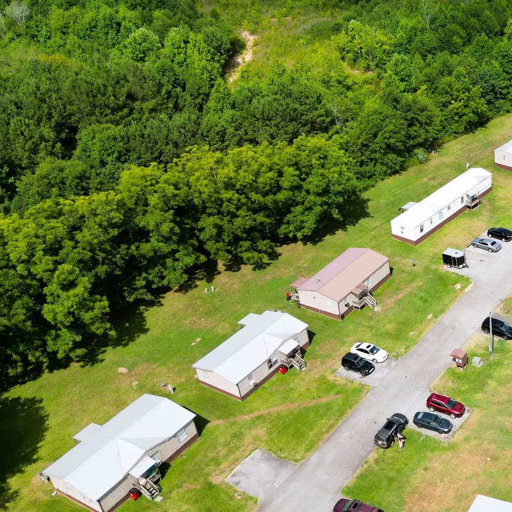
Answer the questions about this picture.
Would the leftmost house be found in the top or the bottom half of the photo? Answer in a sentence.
You can find the leftmost house in the bottom half.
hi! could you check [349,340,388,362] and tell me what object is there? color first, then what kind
white car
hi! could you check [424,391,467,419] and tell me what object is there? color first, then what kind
red car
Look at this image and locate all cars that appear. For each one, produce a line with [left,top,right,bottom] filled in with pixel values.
[373,411,409,450]
[470,237,502,253]
[424,391,467,419]
[485,225,512,241]
[481,315,512,339]
[349,340,388,362]
[338,348,377,376]
[410,410,455,435]
[331,497,383,512]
